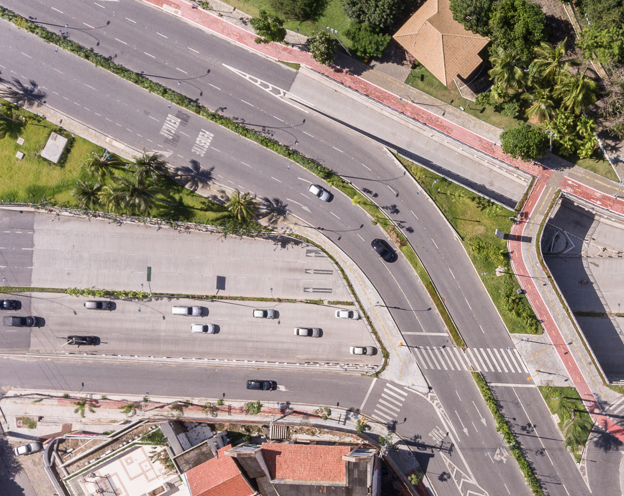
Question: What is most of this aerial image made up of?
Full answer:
What you mostly see from above here is paved ground.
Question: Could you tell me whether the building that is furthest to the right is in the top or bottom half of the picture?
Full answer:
The top half of the photo is where the building that is furthest to the right is.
